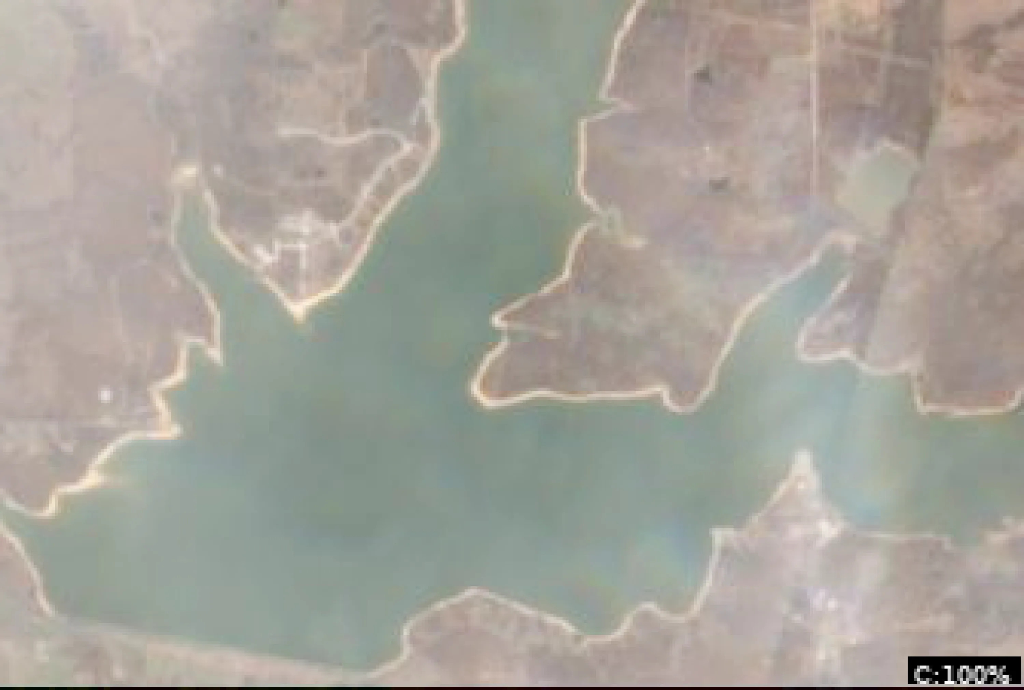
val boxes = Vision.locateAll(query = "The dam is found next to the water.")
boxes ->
[50,614,371,686]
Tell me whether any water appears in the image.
Yes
